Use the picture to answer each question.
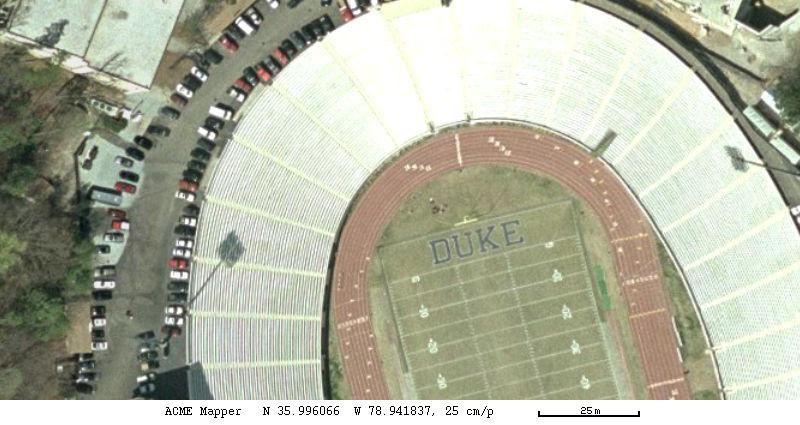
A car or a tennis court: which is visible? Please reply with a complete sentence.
There is a car in the scene.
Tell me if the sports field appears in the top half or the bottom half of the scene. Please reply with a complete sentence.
It is in the bottom half that the sports field appears.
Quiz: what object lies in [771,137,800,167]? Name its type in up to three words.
shed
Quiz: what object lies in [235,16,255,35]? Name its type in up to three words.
vehicle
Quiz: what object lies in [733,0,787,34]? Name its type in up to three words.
building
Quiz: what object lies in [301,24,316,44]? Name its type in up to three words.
car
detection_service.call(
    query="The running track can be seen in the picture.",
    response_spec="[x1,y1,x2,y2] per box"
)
[333,126,695,425]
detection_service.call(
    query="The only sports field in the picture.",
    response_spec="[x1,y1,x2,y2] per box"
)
[378,199,633,425]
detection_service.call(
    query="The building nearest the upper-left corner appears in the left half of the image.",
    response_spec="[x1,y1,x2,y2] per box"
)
[0,0,184,90]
